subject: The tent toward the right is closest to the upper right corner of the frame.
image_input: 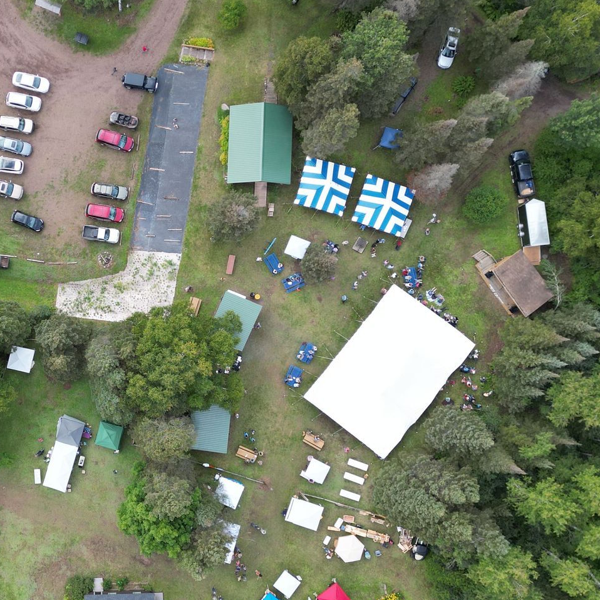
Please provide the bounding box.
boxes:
[342,175,414,242]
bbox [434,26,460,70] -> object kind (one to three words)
truck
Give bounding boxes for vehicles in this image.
[0,155,25,175]
[0,256,8,268]
[112,113,137,128]
[80,224,121,244]
[0,136,33,156]
[0,180,23,200]
[510,149,534,200]
[90,181,128,201]
[0,115,34,135]
[85,203,124,223]
[94,128,135,151]
[122,73,156,92]
[5,90,42,113]
[12,72,50,94]
[434,26,460,70]
[9,209,45,232]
